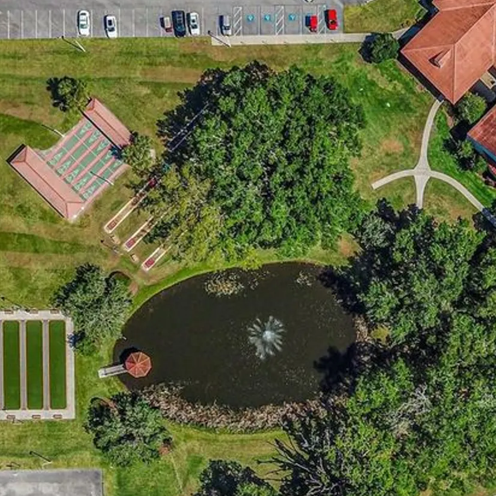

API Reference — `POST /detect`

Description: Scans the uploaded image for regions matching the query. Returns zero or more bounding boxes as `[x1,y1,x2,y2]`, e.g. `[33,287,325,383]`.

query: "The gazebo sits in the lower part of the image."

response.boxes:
[126,350,155,377]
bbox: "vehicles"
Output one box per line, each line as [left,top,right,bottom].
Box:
[105,14,116,39]
[79,12,89,35]
[221,15,232,36]
[188,12,199,35]
[173,12,185,36]
[310,19,316,31]
[327,8,337,32]
[163,20,172,32]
